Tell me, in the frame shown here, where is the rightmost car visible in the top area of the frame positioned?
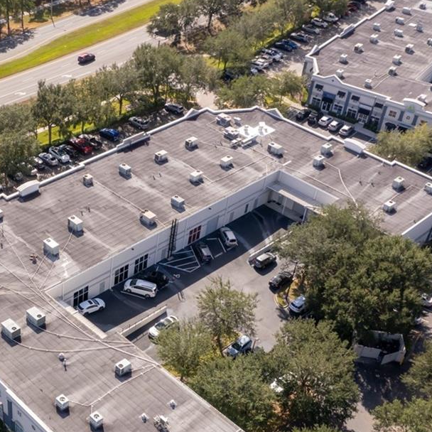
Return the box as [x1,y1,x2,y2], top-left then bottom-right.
[419,158,432,170]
